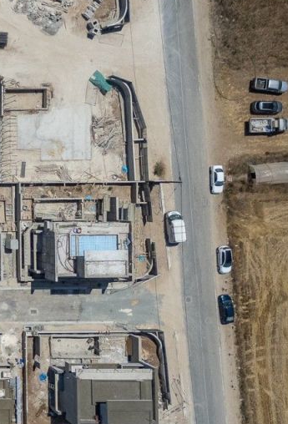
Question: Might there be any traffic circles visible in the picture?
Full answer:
No, I can see no traffic circle in this picture.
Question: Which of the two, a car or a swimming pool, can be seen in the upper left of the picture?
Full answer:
Visible in the upper left of the picture is a swimming pool.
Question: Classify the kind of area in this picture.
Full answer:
This image shows a residential area.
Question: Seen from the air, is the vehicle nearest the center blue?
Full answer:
No, the color of the vehicle nearest the center is white.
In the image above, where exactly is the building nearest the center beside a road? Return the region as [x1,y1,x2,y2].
[38,220,130,281]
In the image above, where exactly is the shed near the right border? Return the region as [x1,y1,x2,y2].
[248,162,288,186]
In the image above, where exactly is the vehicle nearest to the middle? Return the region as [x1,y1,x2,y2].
[165,211,187,244]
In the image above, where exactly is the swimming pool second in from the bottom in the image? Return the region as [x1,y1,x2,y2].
[29,197,81,220]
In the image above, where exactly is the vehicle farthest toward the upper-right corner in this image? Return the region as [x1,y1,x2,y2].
[248,78,286,94]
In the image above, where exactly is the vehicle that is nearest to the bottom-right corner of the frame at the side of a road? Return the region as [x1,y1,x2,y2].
[215,293,233,324]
